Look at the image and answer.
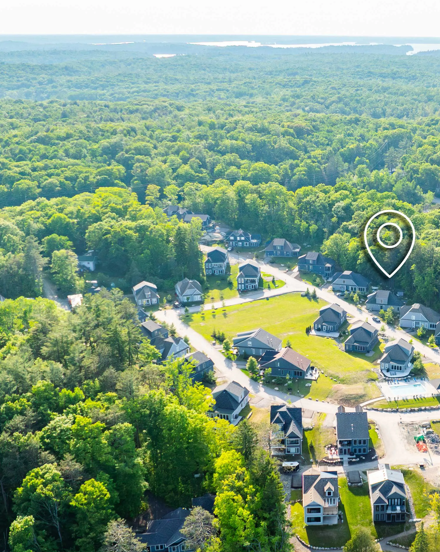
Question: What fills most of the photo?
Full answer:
The largest share of the image is taken up by trees.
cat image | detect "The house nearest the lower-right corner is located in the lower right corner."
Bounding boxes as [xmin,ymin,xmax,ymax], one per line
[366,461,408,523]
